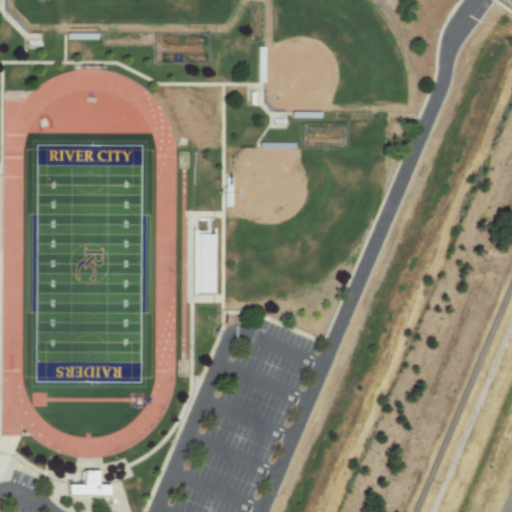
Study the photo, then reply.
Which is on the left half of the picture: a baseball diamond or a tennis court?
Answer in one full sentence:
It is a baseball diamond that can be seen on the left half of the picture.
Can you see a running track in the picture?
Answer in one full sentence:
Yes, this view includes a running track.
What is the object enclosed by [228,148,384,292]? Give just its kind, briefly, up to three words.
baseball field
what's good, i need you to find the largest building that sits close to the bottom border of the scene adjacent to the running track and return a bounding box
[70,470,113,496]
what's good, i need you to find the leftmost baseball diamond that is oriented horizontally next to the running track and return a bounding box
[16,0,241,25]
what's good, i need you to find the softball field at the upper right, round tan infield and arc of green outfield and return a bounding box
[266,0,407,111]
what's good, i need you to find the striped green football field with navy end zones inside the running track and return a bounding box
[24,134,156,437]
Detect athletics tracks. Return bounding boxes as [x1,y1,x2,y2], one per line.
[4,70,176,458]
